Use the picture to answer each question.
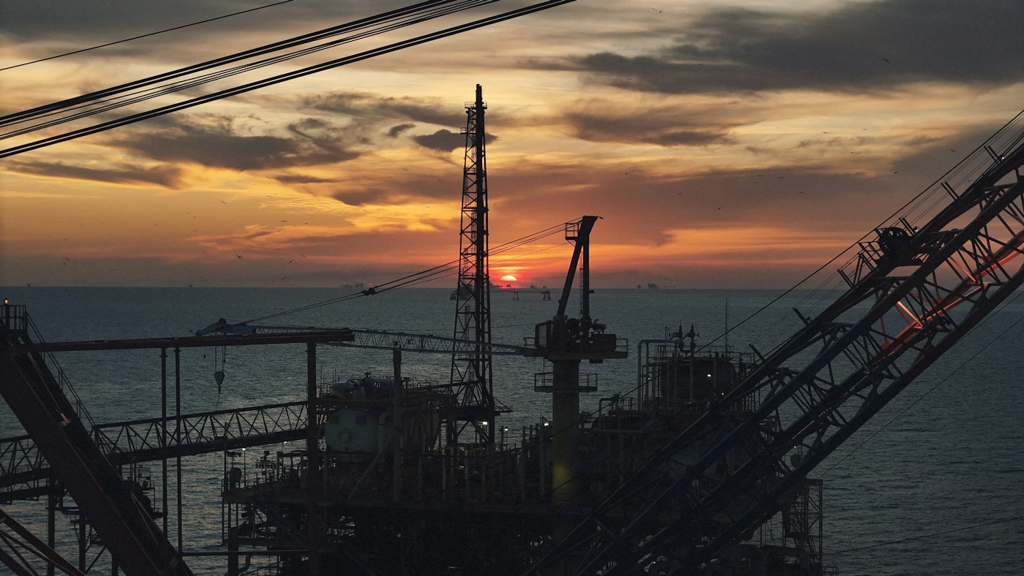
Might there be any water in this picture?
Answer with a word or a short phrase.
Yes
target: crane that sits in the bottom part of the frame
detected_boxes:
[524,215,629,492]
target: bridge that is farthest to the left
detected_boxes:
[0,400,327,507]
